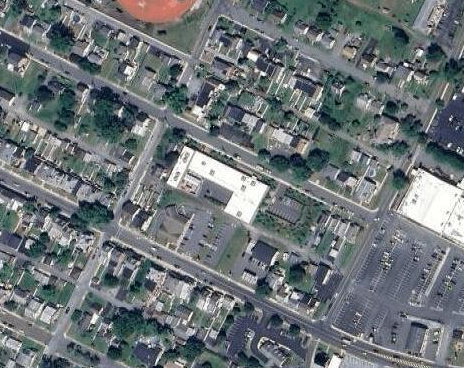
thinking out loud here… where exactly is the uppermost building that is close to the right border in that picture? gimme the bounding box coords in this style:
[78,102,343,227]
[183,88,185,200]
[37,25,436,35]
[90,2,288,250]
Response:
[412,0,445,34]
